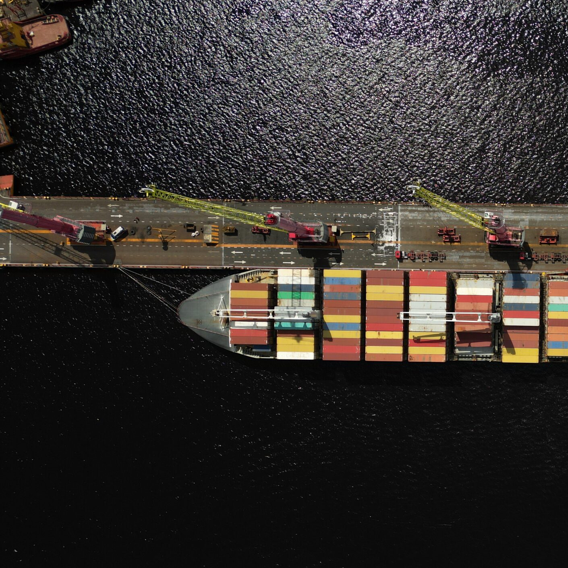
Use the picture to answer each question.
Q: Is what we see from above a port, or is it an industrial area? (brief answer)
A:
port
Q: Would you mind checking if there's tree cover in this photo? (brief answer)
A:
No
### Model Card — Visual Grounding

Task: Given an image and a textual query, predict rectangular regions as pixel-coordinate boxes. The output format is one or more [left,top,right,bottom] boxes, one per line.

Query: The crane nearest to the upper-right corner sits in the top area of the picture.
[407,180,528,252]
